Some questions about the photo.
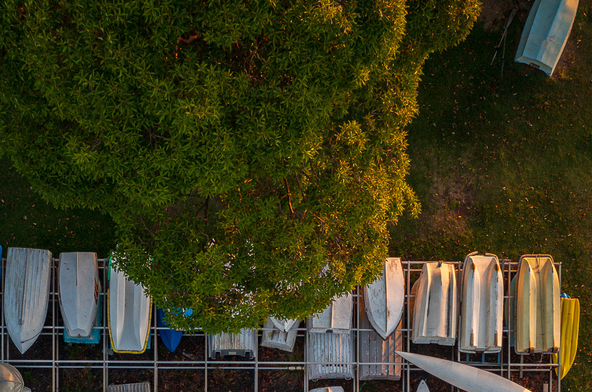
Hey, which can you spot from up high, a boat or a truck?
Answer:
boat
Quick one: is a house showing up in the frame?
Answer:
No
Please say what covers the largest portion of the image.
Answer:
trees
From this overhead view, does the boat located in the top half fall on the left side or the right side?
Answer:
right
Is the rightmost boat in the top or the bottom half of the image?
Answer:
bottom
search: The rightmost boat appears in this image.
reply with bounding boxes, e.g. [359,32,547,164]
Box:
[558,298,581,378]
